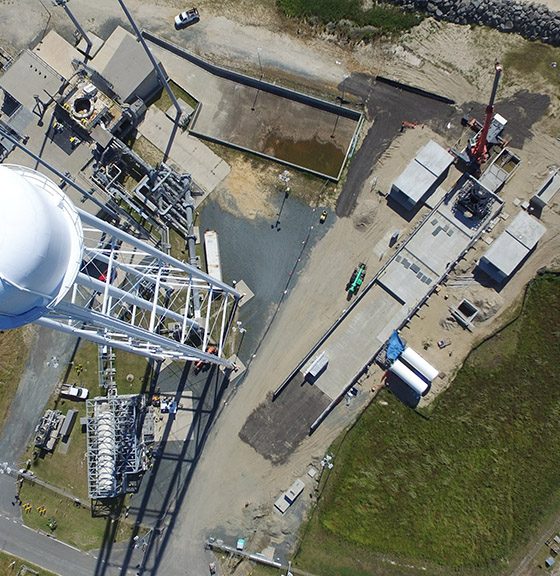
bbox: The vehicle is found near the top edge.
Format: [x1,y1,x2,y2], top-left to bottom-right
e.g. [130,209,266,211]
[173,5,201,24]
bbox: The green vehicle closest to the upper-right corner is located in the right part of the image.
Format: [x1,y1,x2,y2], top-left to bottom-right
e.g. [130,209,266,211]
[347,259,367,292]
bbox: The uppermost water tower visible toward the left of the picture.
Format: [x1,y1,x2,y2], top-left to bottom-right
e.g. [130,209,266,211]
[0,165,256,386]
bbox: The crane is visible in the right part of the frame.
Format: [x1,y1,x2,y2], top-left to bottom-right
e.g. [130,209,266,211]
[454,64,512,170]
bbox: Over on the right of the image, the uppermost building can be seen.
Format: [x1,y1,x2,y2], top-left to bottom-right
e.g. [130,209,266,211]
[415,140,454,179]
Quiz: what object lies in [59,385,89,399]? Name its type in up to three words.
vehicle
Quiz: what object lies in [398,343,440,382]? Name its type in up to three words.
storage tank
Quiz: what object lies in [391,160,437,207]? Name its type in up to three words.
building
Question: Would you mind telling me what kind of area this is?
industrial area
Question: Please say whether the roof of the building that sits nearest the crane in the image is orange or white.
white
